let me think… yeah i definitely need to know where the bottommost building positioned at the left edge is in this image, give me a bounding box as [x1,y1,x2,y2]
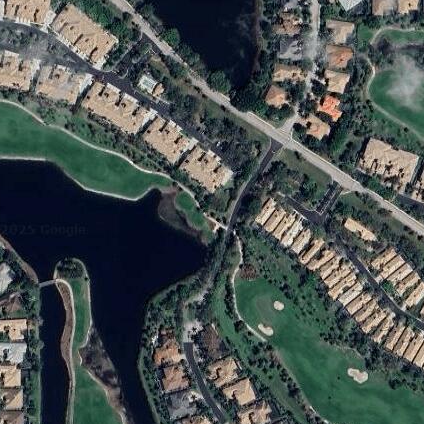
[1,408,27,424]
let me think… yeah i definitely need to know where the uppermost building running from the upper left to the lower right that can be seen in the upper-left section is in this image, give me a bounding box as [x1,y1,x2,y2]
[52,5,116,64]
